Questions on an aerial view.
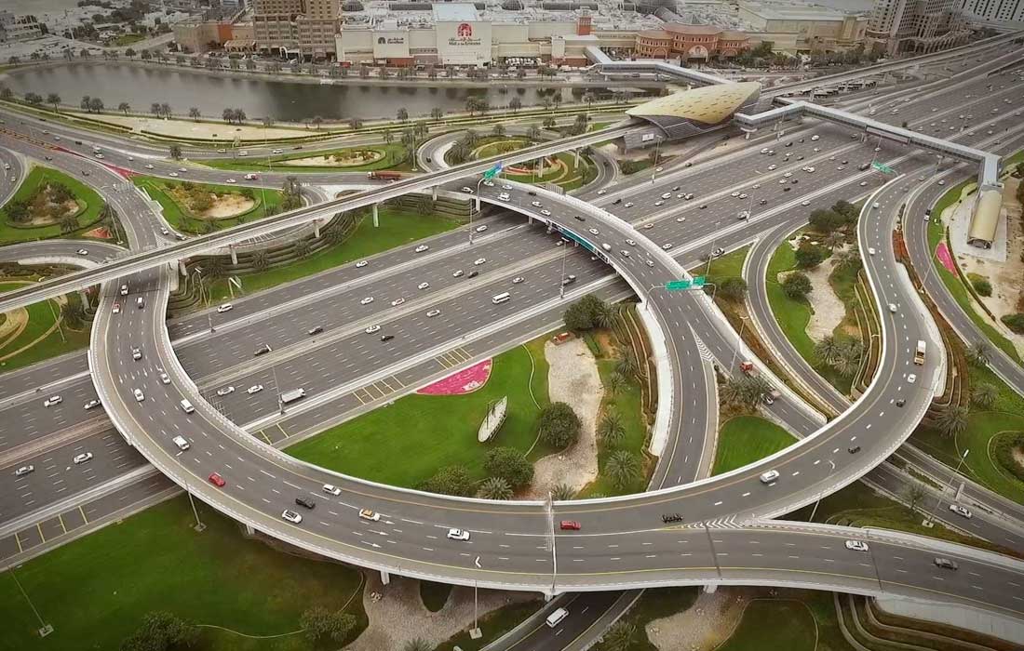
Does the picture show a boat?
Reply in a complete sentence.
Yes, there's a boat here.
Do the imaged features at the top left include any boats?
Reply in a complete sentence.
No, there's no boat to be seen at the top left.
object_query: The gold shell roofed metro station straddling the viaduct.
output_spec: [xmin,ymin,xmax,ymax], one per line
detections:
[607,81,760,151]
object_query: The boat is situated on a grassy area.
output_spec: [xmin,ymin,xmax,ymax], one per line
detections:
[477,398,506,446]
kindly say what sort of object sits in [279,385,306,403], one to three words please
vehicle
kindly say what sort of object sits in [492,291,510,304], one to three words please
vehicle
